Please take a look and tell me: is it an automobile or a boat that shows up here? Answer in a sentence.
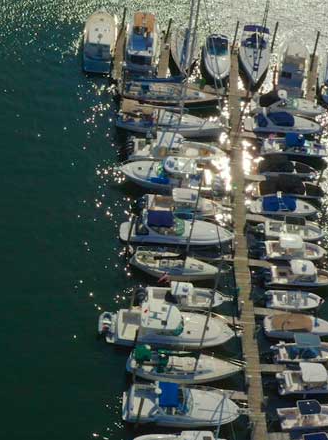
This aerial view contains a boat.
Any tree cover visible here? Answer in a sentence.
No, the scene doesn't show any tree cover.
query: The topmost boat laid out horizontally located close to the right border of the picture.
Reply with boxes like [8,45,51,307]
[246,87,328,122]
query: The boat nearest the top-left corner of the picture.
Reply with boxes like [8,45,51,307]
[79,7,118,78]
